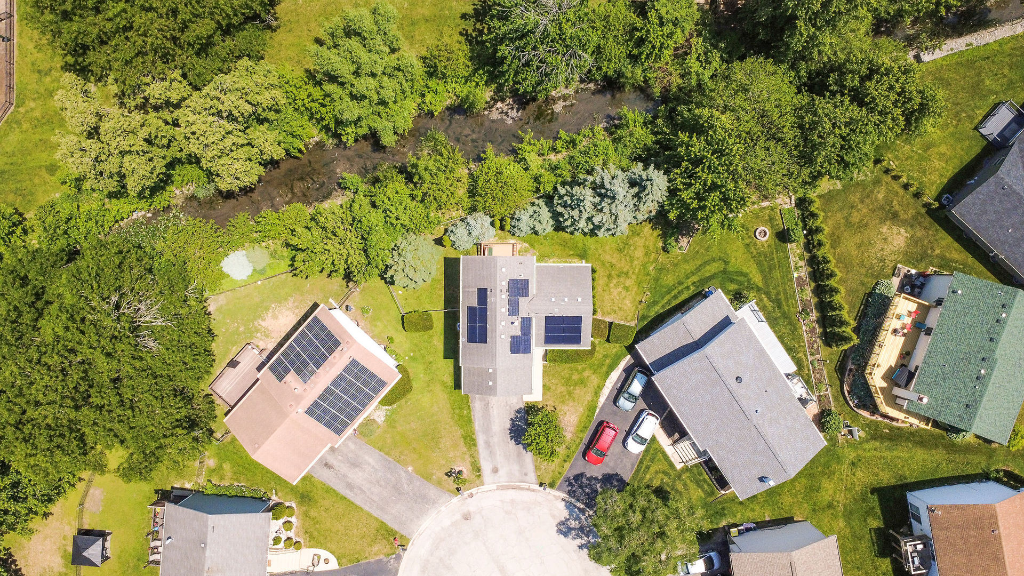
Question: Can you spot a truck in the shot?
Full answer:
No, the frame has no truck in it.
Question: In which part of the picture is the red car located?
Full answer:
The red car sits in the bottom section of the image.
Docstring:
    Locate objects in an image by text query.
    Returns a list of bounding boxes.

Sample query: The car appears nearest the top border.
[617,366,652,416]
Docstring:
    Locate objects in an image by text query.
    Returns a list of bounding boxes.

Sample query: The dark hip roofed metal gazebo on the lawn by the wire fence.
[71,528,116,566]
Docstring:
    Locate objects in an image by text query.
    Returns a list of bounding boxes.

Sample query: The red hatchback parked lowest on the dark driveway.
[586,421,619,469]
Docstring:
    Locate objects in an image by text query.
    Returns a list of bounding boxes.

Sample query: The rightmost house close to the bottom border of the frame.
[903,479,1024,576]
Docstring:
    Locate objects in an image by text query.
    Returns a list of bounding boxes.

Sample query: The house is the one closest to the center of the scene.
[459,255,594,396]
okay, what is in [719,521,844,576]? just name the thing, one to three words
house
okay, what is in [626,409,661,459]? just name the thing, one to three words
car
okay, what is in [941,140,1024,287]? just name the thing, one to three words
house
